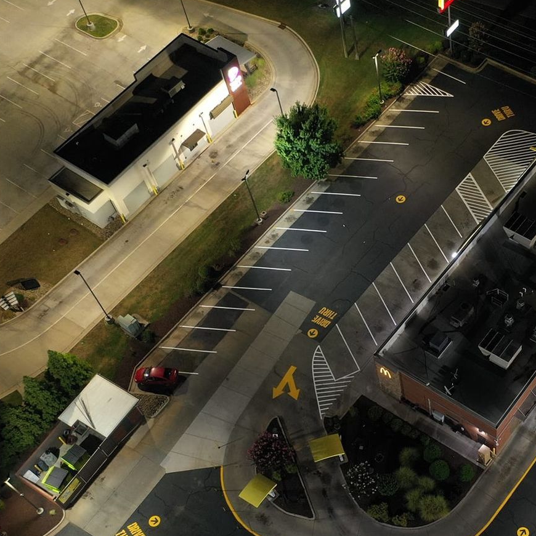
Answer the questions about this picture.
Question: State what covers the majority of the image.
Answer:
paved ground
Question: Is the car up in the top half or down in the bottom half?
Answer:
bottom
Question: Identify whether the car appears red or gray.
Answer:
red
